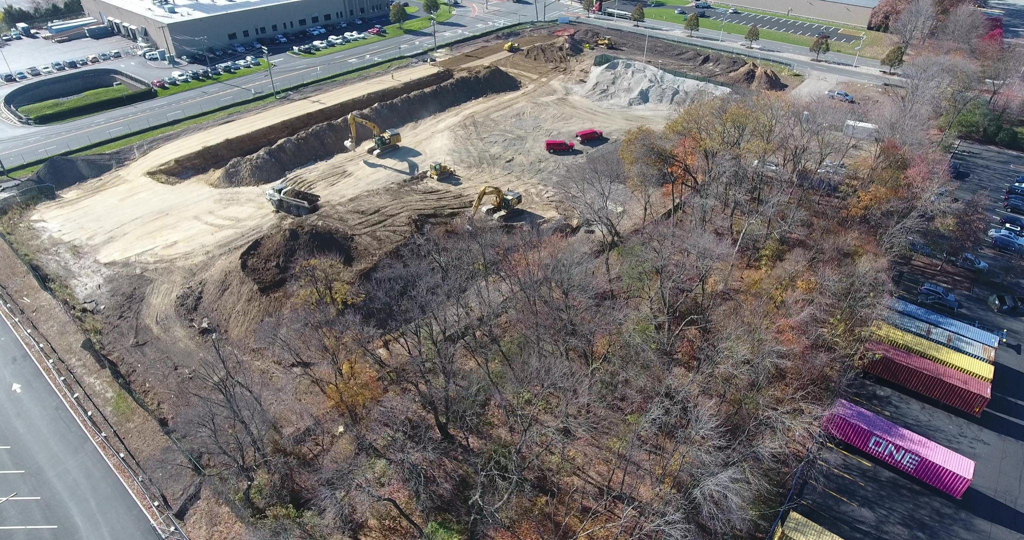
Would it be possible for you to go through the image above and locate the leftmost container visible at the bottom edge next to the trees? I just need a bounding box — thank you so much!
[775,511,839,540]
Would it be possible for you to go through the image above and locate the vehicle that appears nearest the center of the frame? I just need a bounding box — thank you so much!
[463,183,525,227]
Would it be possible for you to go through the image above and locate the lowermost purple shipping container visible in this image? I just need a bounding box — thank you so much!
[822,399,975,499]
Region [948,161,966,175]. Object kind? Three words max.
car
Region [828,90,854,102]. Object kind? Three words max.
vehicle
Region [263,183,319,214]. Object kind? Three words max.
truck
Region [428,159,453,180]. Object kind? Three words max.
work vehicle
